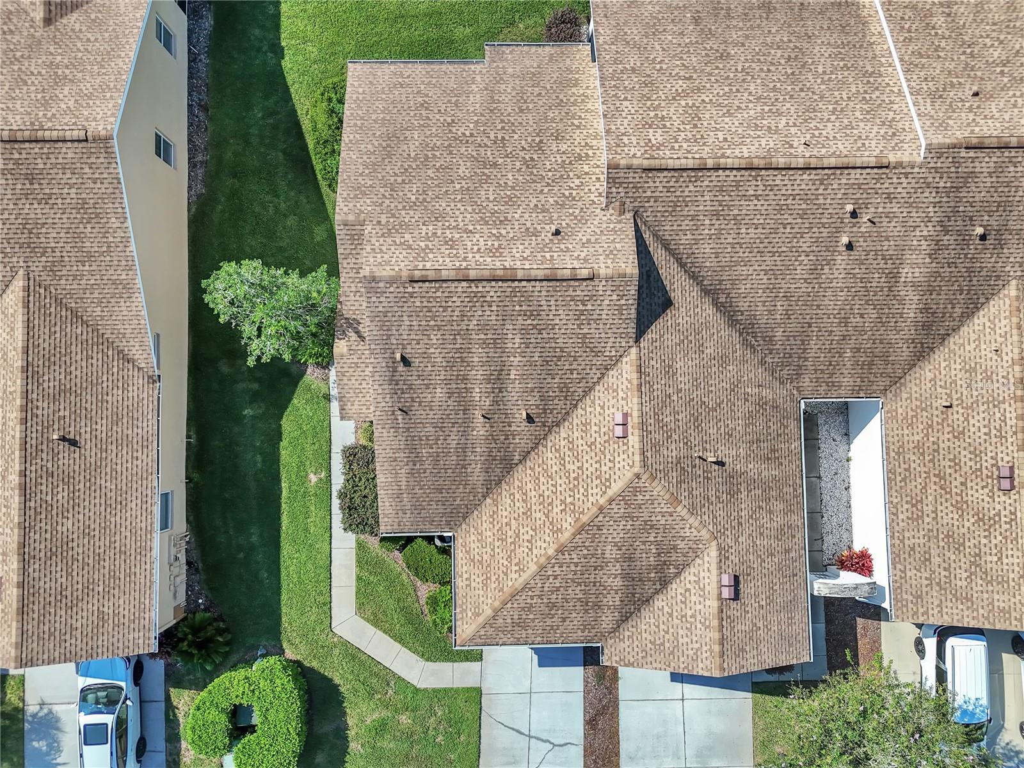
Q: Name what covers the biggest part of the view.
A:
buildings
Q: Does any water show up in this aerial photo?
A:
No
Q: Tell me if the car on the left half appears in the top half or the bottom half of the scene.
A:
bottom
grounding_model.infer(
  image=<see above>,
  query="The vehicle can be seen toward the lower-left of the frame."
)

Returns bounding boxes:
[67,656,145,768]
